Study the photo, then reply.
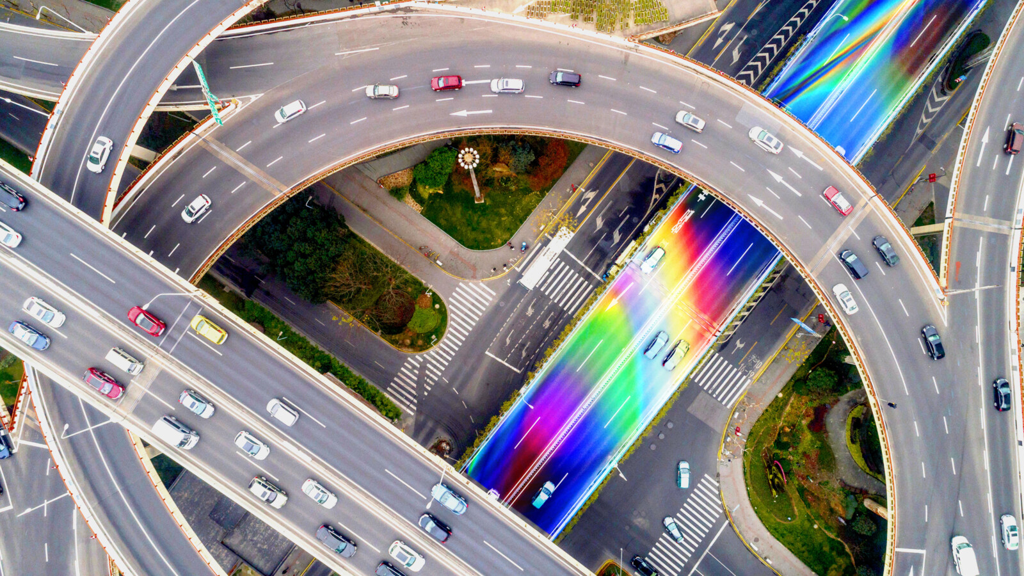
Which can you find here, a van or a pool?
van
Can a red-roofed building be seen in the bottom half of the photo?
No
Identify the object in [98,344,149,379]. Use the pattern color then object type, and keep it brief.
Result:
white van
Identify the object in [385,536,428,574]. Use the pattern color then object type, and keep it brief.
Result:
white car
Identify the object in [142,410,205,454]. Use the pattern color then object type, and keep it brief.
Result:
white vehicle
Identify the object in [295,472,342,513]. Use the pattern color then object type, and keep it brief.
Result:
white car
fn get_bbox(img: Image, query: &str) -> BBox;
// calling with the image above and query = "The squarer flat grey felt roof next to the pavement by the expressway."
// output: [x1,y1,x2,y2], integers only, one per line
[226,529,300,576]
